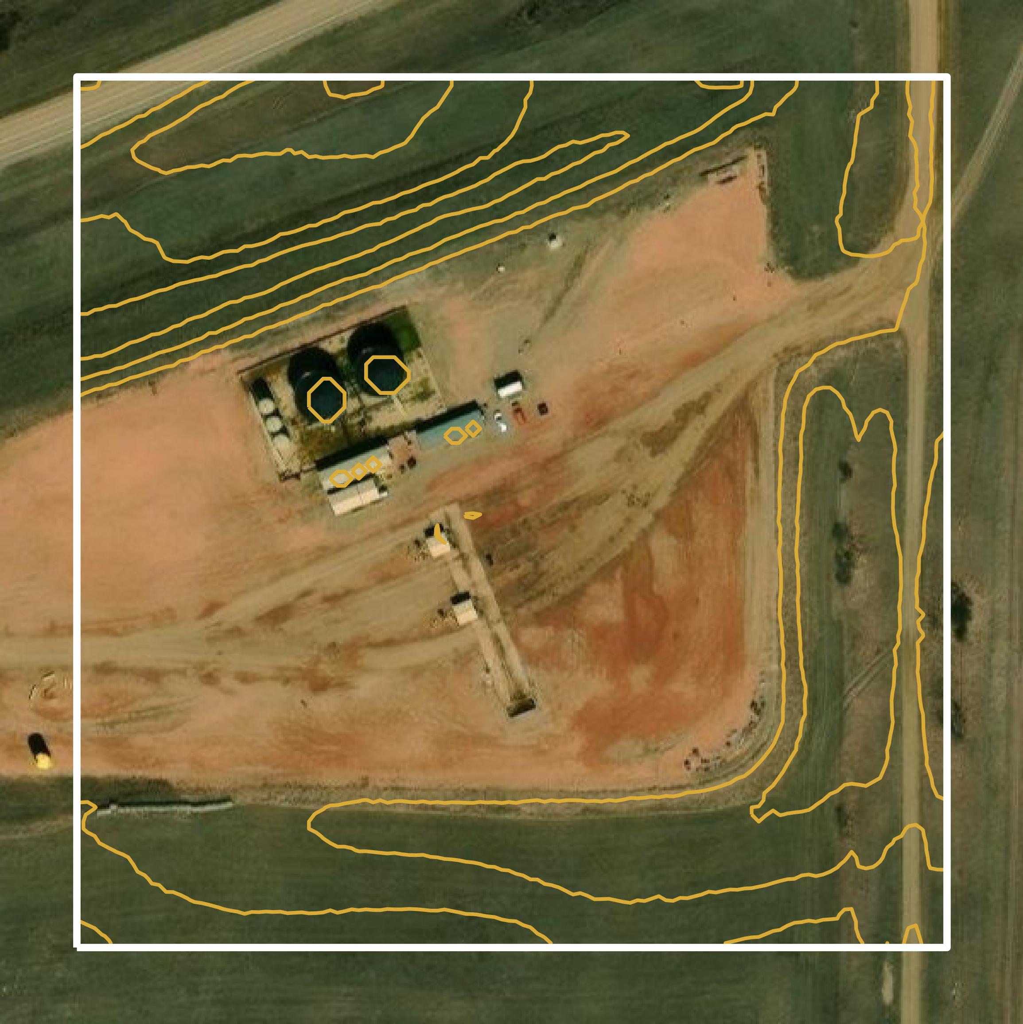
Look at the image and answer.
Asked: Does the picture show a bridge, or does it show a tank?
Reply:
tank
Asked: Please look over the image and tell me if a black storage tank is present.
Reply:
Yes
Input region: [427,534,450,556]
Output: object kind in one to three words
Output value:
shed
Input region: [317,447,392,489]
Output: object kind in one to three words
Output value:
building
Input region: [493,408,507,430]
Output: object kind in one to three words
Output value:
vehicle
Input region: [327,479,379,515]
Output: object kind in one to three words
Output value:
building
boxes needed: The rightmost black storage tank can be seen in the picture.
[355,348,406,396]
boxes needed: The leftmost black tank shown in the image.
[296,372,348,422]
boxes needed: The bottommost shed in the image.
[453,601,477,623]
